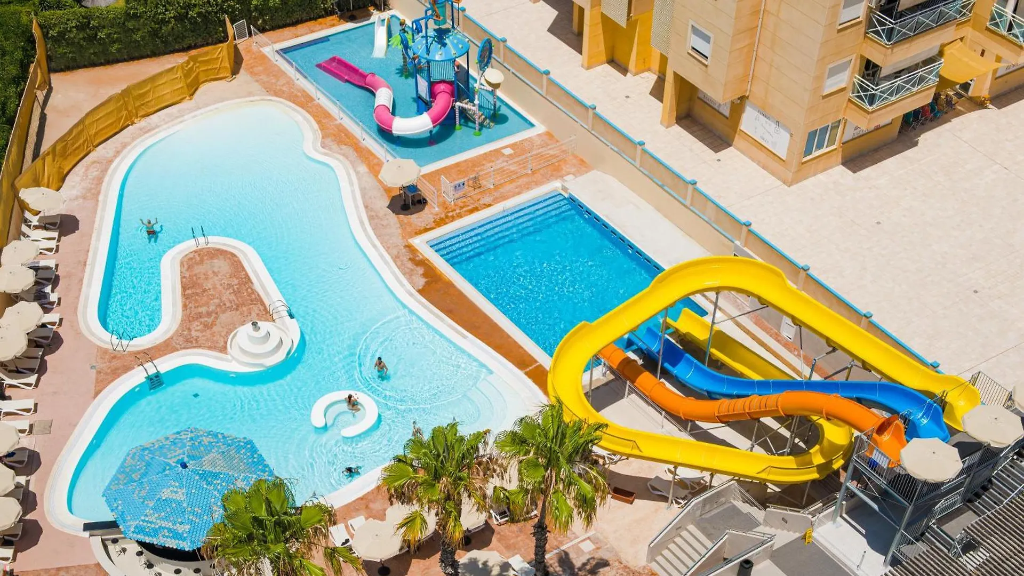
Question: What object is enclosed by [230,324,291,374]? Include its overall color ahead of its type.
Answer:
white fountain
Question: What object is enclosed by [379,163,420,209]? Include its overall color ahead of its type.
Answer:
white umbrella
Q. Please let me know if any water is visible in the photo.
Yes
